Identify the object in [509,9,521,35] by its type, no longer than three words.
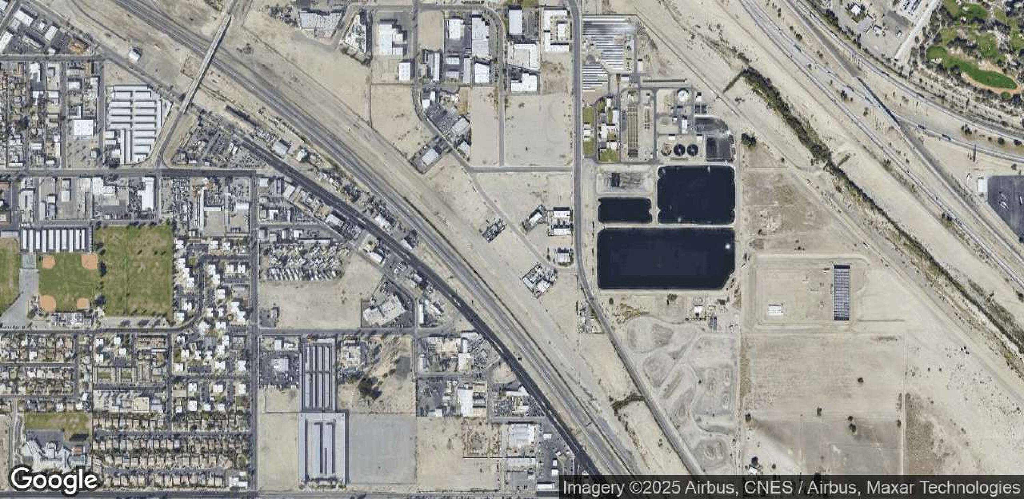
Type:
building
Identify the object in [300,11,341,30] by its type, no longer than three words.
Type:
building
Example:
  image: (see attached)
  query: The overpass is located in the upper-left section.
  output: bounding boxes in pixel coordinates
[156,0,245,169]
